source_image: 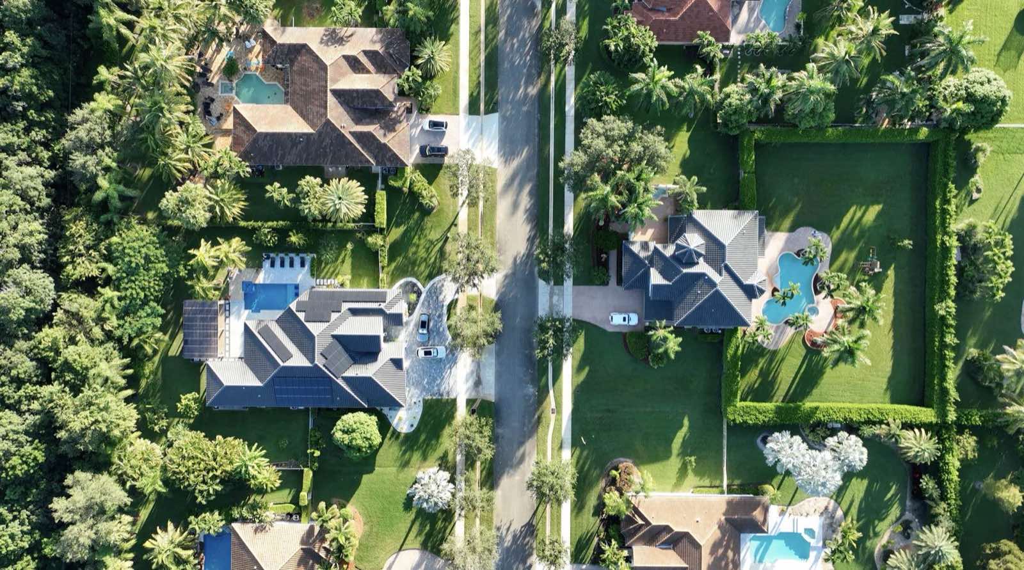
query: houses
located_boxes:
[620,494,770,570]
[232,27,410,166]
[230,520,340,570]
[622,209,767,326]
[631,0,732,48]
[206,287,407,408]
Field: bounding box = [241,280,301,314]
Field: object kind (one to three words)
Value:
swimming pool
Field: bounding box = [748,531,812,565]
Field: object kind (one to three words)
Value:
swimming pool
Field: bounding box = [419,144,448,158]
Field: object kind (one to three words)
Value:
car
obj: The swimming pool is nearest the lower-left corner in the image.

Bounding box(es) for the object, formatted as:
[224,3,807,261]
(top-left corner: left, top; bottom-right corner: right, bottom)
[203,532,231,570]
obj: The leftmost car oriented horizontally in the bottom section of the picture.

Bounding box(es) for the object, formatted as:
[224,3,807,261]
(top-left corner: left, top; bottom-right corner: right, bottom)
[417,346,446,359]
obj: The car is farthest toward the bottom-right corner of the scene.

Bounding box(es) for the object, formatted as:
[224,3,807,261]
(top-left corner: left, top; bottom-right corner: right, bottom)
[609,312,638,326]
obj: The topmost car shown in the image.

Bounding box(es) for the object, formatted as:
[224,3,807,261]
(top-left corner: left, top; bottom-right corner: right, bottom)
[423,119,448,132]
